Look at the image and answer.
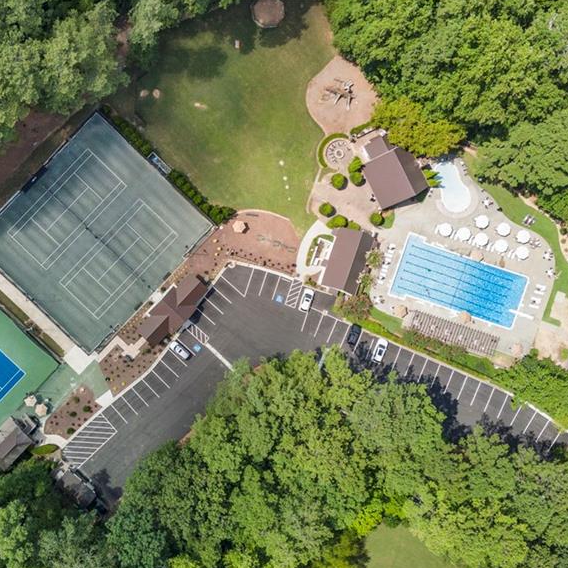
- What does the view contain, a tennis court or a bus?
tennis court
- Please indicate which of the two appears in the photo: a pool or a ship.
pool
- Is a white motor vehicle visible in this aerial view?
Yes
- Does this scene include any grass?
Yes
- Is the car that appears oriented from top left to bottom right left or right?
left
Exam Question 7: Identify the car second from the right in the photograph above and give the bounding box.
[346,323,361,347]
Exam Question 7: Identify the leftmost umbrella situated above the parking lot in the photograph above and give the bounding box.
[233,220,247,233]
